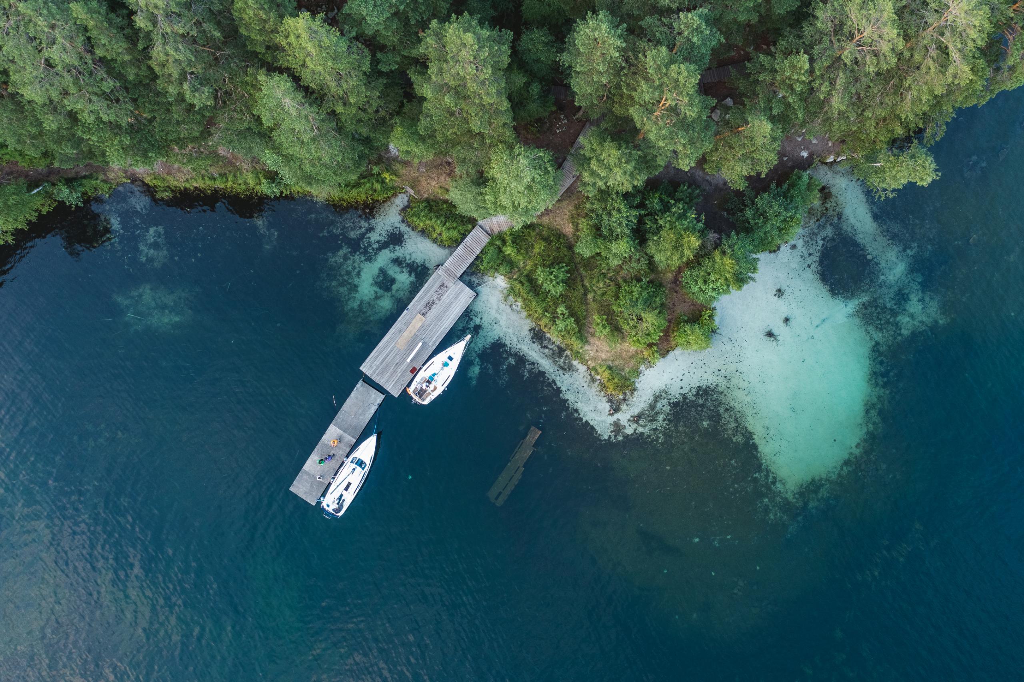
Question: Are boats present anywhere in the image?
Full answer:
Yes, a boat can be made out from above.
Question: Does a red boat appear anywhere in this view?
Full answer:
No, I can see no red boat in this picture.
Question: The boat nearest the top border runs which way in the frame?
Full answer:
The boat nearest the top border is laid out on a diagonal.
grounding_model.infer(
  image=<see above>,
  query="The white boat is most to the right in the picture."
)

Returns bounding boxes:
[408,335,470,405]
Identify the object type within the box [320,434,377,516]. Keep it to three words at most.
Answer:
boat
